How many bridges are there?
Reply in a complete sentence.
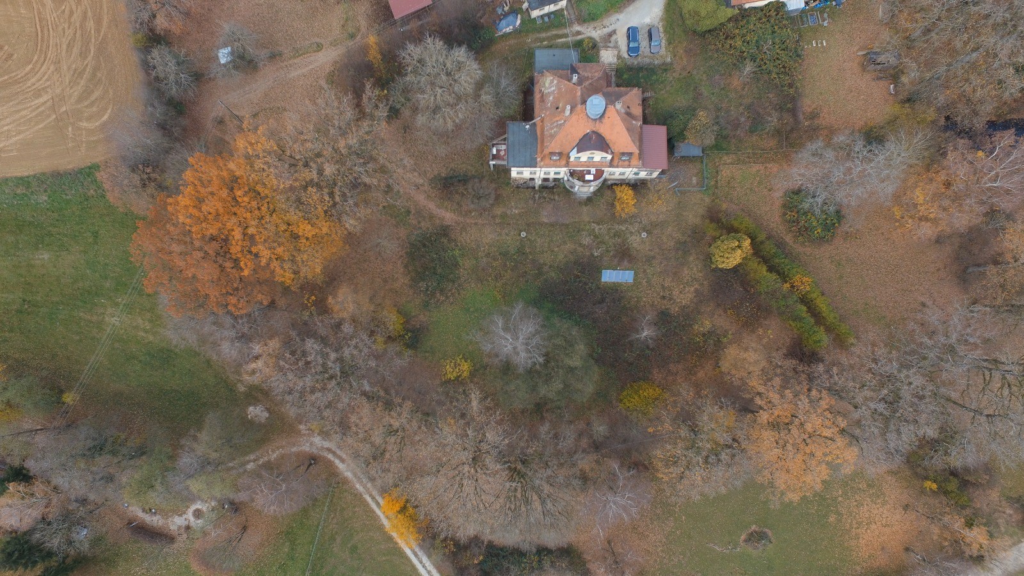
There are no bridges in the image.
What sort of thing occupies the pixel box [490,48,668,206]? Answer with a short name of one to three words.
house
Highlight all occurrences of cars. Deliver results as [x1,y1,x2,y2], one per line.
[626,29,640,56]
[648,29,661,54]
